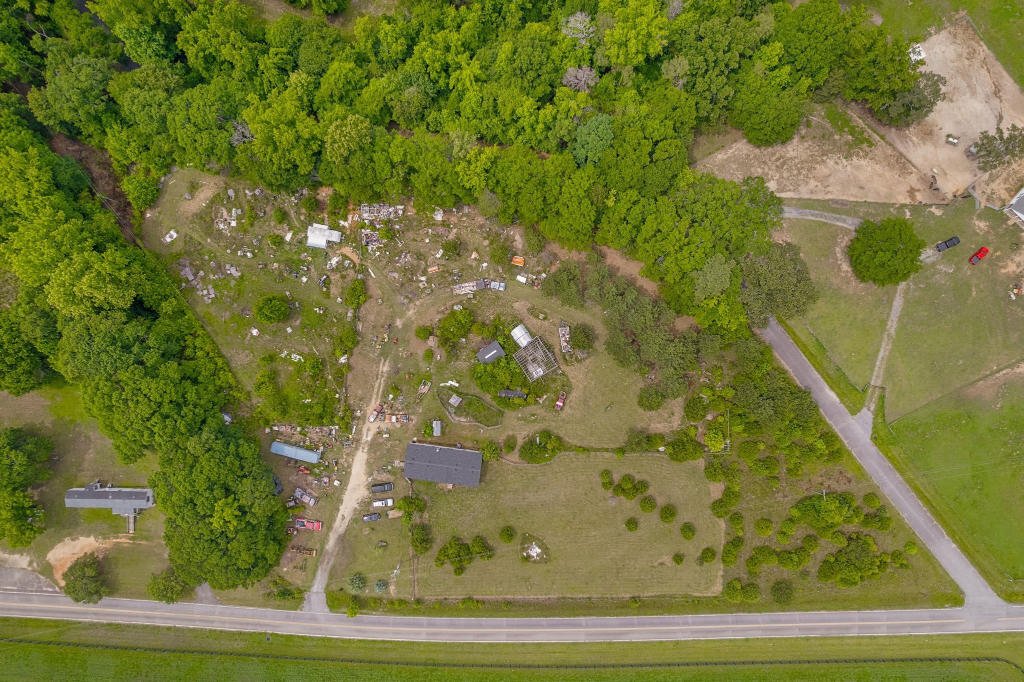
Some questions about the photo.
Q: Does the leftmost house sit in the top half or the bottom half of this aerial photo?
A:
bottom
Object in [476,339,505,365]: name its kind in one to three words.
shed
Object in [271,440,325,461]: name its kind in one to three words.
bus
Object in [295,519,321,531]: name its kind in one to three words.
vehicle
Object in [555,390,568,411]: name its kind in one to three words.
vehicle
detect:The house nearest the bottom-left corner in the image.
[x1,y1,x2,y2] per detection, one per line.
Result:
[64,478,148,516]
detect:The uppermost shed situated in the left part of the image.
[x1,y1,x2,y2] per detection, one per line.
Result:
[306,224,343,250]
